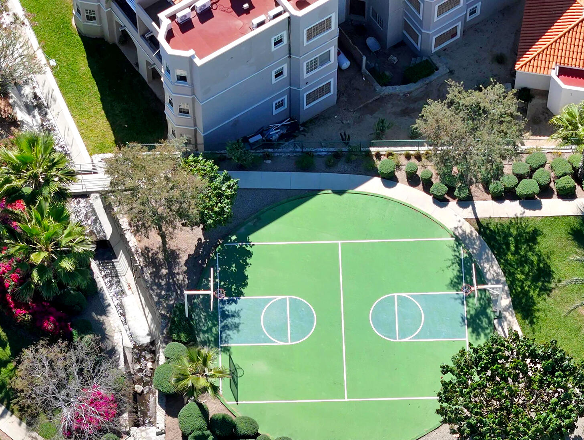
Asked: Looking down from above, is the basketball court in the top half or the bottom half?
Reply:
bottom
